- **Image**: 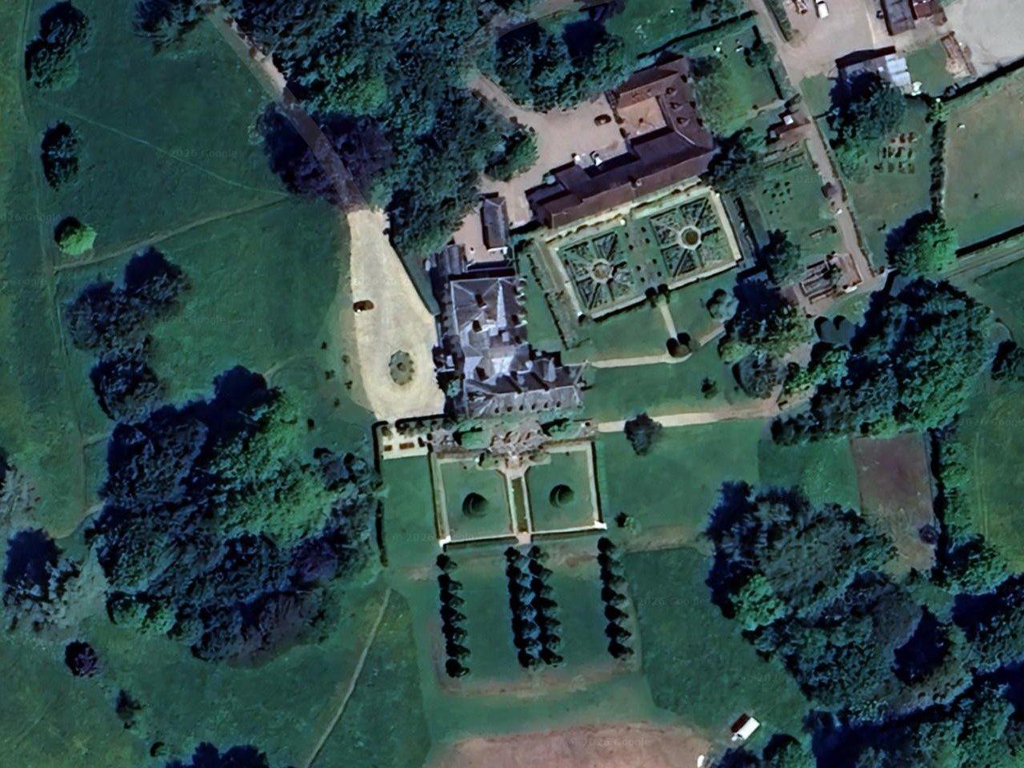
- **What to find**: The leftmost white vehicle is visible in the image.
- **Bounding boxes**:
[592,152,604,168]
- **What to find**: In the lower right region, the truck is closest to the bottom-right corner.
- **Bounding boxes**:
[732,716,759,740]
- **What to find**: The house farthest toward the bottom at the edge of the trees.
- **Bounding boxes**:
[441,272,586,423]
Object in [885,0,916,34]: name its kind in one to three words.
barn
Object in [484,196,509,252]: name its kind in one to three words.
building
